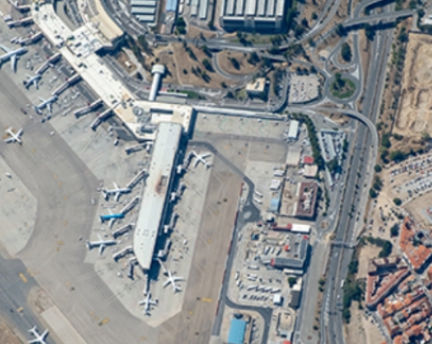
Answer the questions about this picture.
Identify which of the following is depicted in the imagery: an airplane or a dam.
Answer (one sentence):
The one in the frame is an airplane.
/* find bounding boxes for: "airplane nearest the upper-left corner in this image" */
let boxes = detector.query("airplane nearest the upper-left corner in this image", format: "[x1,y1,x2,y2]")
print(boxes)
[0,45,29,66]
